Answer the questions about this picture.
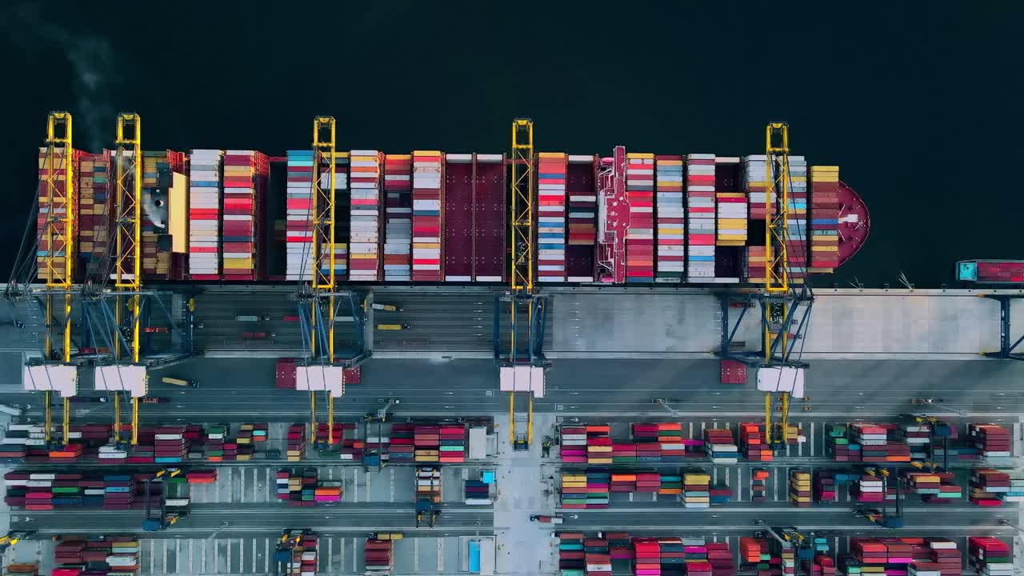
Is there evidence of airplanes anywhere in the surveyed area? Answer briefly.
No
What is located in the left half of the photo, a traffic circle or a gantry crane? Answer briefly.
gantry crane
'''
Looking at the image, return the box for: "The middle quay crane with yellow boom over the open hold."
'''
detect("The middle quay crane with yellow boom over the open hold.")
[490,119,551,444]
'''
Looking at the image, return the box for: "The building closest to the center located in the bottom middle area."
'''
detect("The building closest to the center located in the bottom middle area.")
[469,427,486,458]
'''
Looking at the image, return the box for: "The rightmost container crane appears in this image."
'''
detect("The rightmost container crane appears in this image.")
[972,294,1024,361]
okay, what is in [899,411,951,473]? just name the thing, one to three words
container crane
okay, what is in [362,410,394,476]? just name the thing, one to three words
container crane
